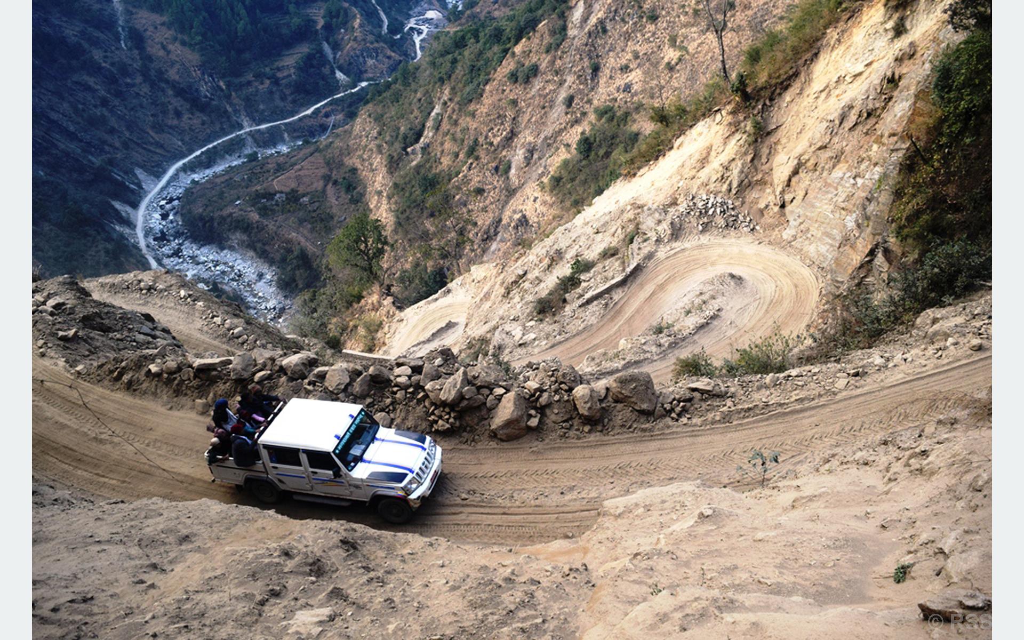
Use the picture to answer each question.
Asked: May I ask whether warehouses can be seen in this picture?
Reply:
No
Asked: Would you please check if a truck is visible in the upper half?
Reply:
No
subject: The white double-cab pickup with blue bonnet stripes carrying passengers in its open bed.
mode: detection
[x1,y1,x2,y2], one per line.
[206,400,445,524]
